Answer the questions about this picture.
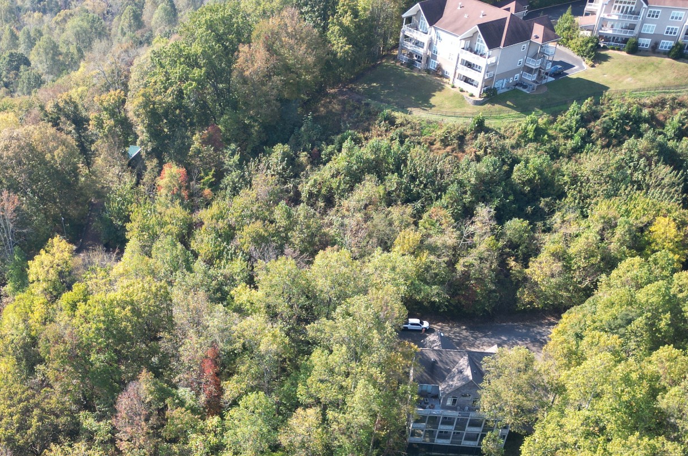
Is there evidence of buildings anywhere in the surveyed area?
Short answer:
Yes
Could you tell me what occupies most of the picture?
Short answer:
trees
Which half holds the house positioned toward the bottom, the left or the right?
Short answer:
right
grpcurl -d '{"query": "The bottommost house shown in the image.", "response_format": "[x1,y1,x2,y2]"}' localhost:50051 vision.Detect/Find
[408,326,509,456]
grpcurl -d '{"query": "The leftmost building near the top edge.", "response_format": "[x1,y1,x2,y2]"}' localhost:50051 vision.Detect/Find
[399,0,572,96]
